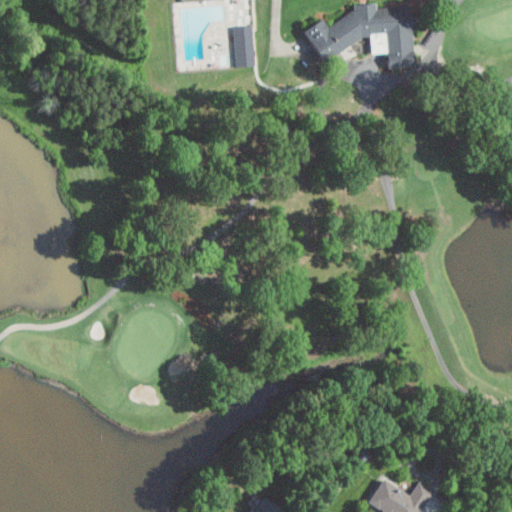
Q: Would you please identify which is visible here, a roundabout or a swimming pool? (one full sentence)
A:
This aerial view contains a swimming pool.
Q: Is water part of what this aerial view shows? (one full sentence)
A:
Yes, water can be seen from above here.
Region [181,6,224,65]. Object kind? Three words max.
swimming pool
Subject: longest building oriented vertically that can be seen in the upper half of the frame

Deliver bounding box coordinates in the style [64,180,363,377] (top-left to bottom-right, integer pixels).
[234,26,254,68]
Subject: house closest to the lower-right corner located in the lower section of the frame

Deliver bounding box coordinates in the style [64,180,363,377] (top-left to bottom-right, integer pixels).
[370,483,432,512]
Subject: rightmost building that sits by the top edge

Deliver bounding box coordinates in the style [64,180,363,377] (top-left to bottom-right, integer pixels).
[304,3,415,67]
